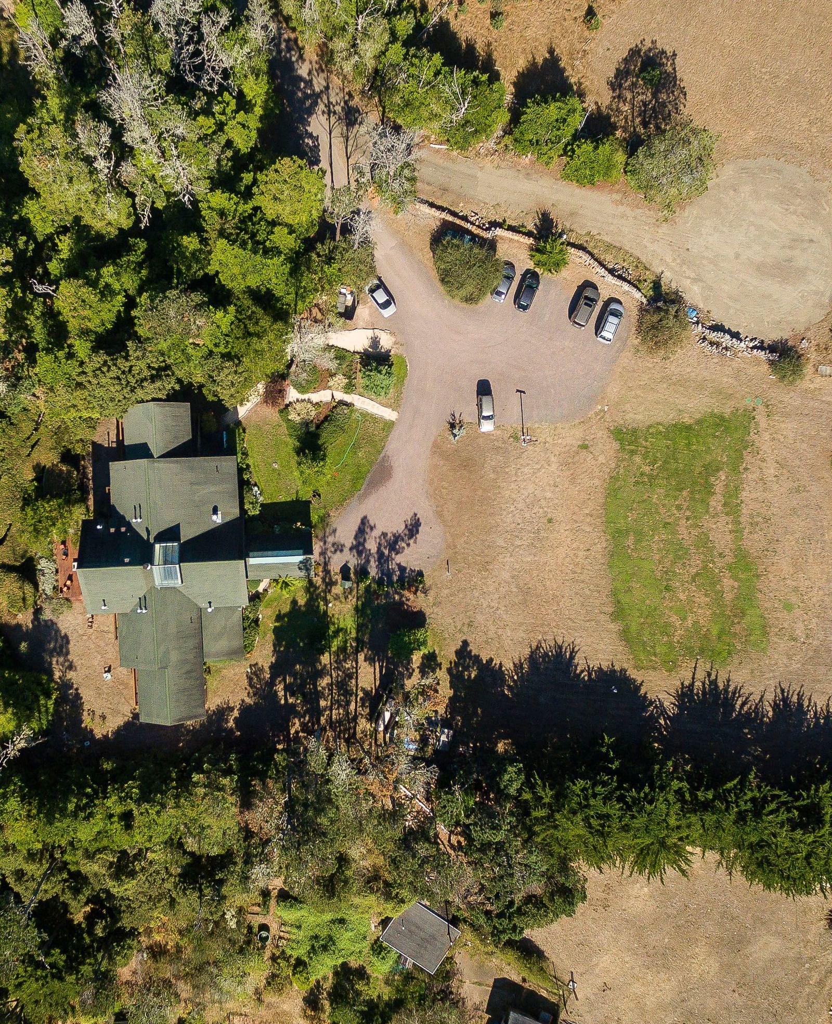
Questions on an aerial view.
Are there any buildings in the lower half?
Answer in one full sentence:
Yes, looking in the lower half, one can make out a building.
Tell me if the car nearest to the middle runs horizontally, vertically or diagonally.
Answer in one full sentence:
I'd say the car nearest to the middle is aligned vertically in the picture.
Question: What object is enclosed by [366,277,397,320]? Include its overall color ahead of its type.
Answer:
white car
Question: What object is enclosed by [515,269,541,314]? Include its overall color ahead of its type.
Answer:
black car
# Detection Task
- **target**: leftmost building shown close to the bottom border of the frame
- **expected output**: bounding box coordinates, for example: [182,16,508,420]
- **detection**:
[381,897,461,974]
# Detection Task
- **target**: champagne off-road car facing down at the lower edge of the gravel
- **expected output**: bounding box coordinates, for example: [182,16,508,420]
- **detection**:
[475,393,496,435]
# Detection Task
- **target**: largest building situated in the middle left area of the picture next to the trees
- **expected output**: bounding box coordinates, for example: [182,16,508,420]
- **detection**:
[72,402,315,725]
